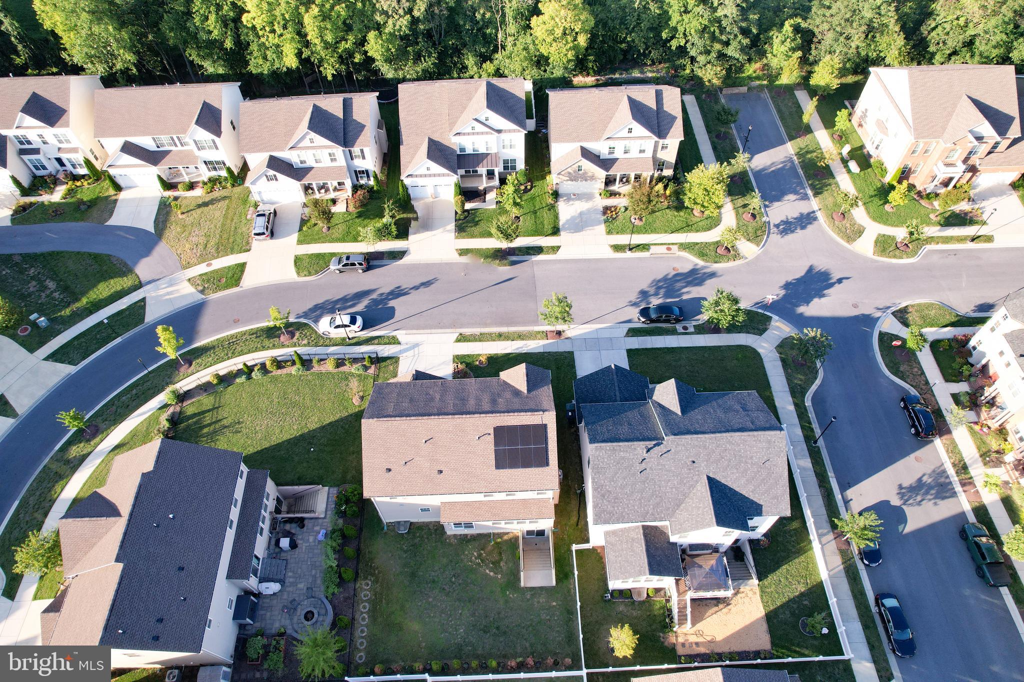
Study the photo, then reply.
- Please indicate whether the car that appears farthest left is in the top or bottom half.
top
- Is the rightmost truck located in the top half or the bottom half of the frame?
bottom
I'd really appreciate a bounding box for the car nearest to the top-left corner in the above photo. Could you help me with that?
[254,207,275,236]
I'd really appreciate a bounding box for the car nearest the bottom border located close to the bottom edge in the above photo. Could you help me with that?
[876,598,918,662]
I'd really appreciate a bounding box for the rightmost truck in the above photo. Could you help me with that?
[962,525,1015,590]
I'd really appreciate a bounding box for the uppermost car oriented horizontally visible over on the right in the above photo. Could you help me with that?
[637,304,683,324]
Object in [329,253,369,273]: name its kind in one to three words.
car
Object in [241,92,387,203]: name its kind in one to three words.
house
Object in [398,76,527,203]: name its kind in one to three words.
house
